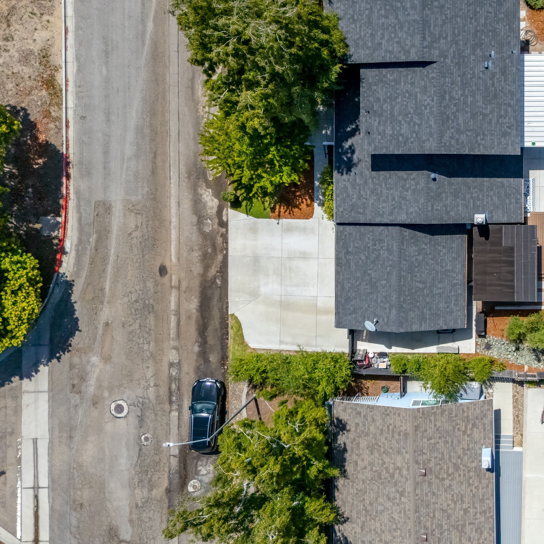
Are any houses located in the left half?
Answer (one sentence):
No, there is no house in the left half.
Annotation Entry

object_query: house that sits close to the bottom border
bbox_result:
[331,387,495,544]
